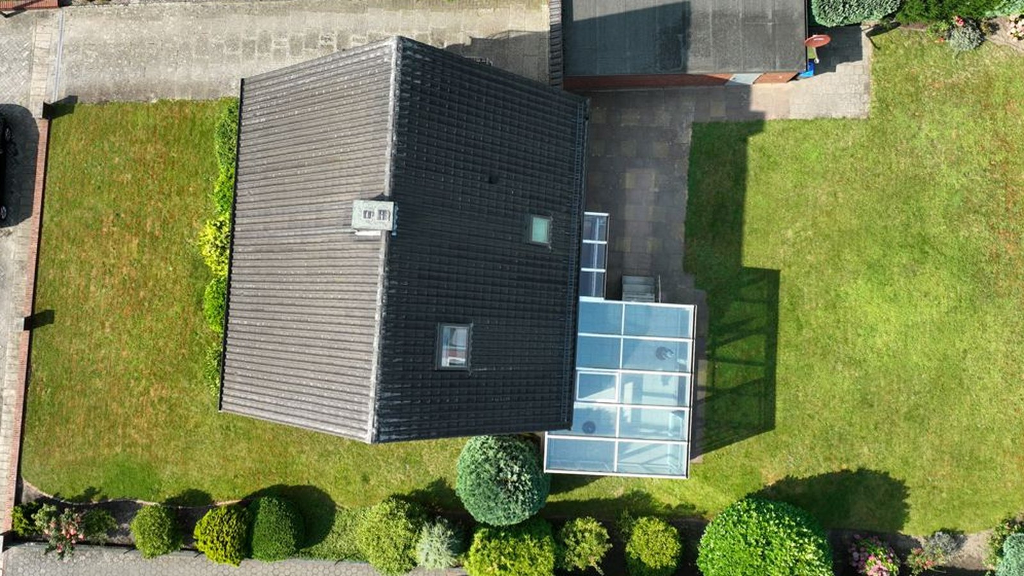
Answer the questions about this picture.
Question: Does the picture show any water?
No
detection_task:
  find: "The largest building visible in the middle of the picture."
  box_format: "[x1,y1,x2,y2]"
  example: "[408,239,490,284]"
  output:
[216,42,593,447]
